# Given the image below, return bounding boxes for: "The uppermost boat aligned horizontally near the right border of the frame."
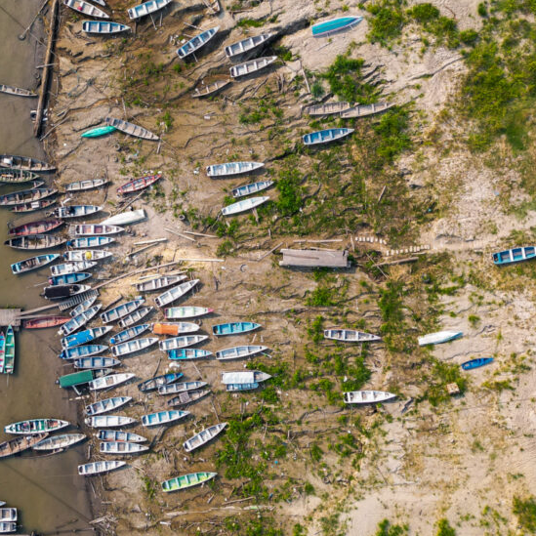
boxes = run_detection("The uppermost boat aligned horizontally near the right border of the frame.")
[492,247,536,264]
